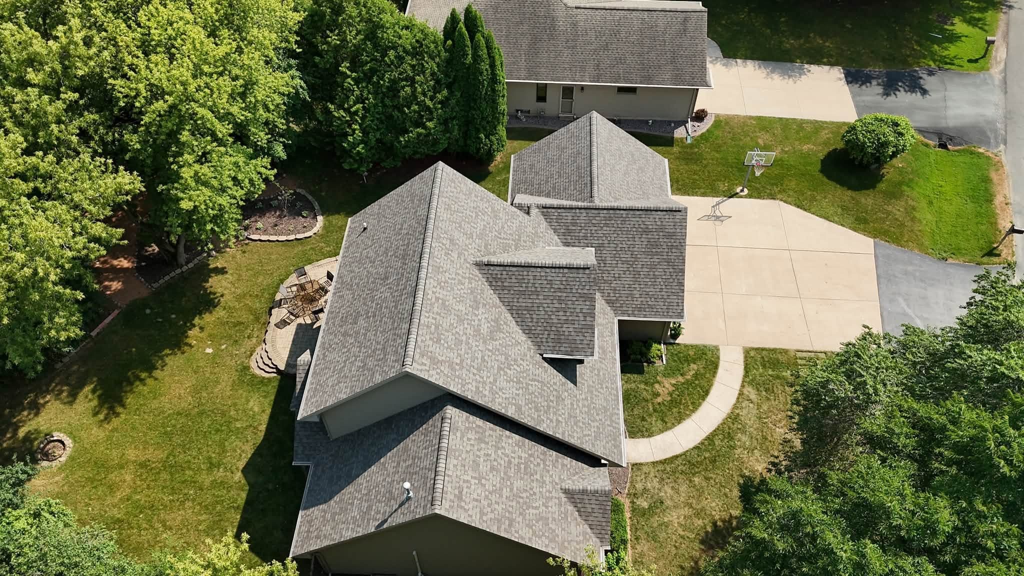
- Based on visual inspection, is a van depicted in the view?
No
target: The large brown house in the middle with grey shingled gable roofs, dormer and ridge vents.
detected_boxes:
[288,110,689,576]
